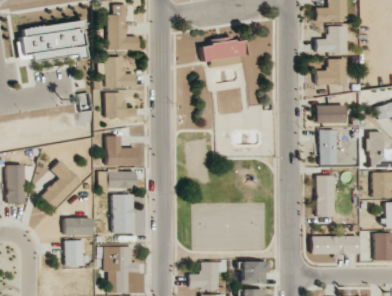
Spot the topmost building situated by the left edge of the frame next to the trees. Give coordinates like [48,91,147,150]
[16,20,88,61]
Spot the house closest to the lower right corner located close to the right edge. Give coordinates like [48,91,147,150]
[370,232,392,260]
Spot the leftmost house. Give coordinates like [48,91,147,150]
[3,164,24,204]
